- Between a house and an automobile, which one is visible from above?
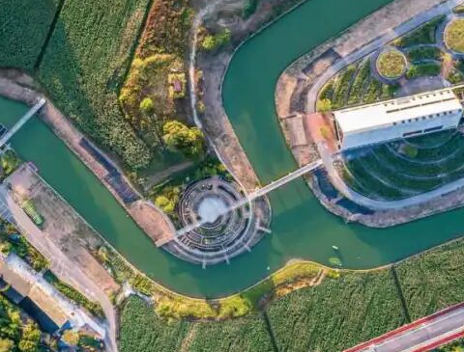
house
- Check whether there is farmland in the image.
Yes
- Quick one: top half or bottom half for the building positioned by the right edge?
top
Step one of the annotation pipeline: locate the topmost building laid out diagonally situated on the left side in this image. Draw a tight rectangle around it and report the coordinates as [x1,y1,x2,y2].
[0,260,32,297]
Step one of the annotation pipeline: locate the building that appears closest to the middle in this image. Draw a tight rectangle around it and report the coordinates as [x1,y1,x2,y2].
[286,114,307,148]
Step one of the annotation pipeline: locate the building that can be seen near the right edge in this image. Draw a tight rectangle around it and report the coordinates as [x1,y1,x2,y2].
[329,88,463,150]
